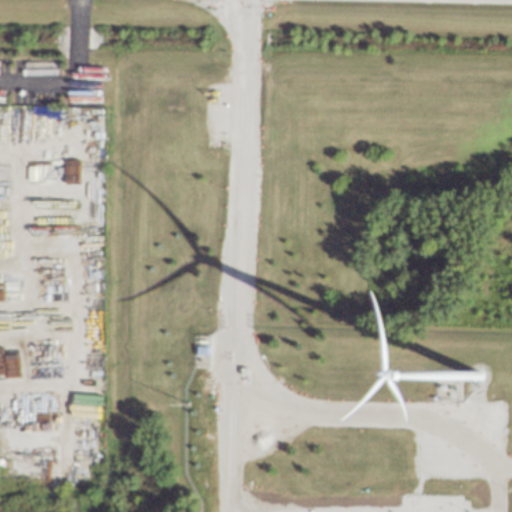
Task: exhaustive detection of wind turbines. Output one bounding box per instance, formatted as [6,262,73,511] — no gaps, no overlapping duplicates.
[348,293,496,434]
